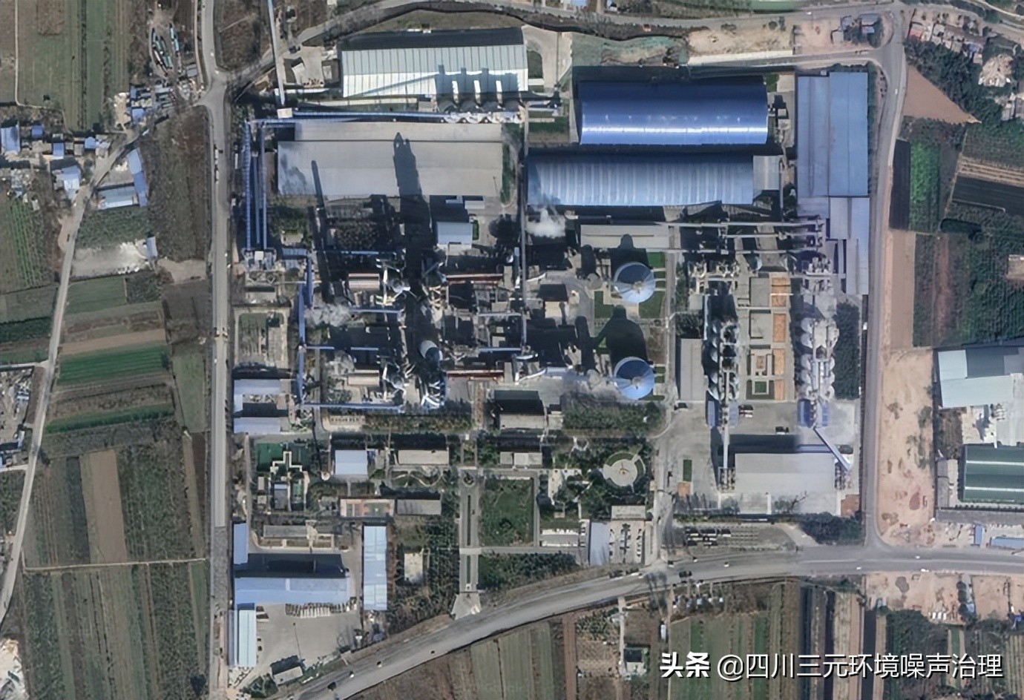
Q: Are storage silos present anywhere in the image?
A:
Yes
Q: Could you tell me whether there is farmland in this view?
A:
Yes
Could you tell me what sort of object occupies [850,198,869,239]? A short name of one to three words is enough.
shed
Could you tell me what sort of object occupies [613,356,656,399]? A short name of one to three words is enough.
silo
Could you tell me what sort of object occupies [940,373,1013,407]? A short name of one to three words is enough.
building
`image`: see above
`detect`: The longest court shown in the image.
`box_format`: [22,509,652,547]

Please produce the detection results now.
[362,499,394,516]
